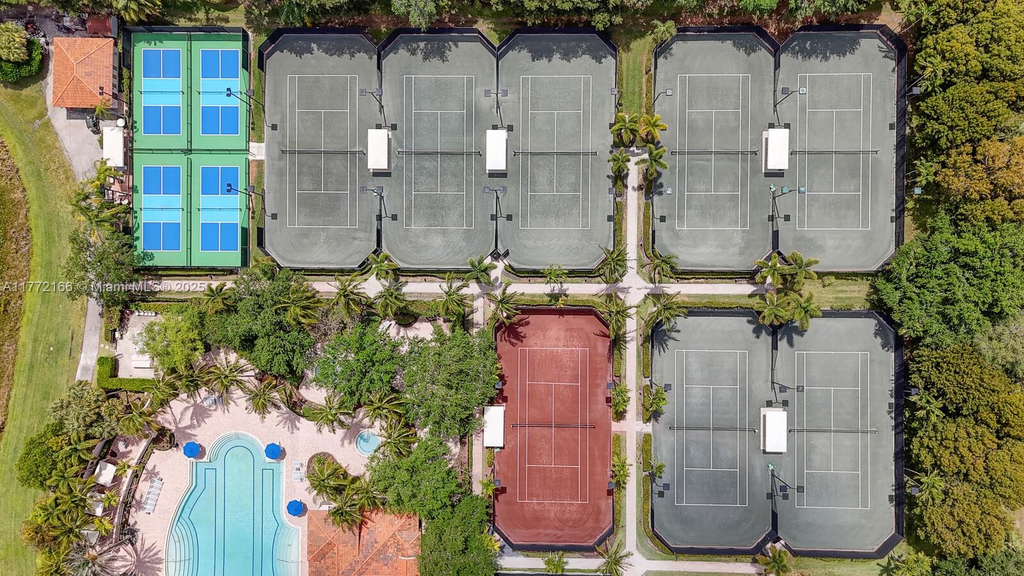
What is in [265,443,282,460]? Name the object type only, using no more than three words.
umbrella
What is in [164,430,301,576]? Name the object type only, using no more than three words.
swimming pool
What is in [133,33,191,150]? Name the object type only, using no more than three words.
sports court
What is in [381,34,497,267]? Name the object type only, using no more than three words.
tennis court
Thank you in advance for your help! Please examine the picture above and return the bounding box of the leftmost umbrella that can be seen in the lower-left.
[184,442,201,458]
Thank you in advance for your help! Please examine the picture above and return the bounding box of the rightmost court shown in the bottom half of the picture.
[777,311,895,551]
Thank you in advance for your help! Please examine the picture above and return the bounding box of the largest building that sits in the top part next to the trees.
[52,37,120,108]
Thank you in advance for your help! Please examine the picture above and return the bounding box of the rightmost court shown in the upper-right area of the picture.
[778,31,896,271]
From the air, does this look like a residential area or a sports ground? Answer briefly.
sports ground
